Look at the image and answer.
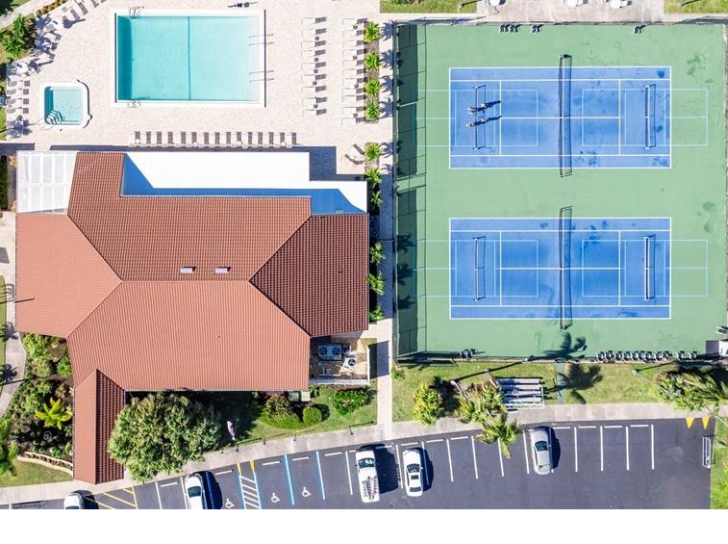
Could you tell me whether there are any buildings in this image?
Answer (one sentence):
Yes, a building can be made out from above.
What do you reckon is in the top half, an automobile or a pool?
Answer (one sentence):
It is a pool that can be seen in the top half.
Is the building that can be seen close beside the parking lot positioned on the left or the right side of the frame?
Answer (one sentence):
It is on the left.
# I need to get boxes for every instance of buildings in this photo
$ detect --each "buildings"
[15,151,369,484]
[711,341,728,361]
